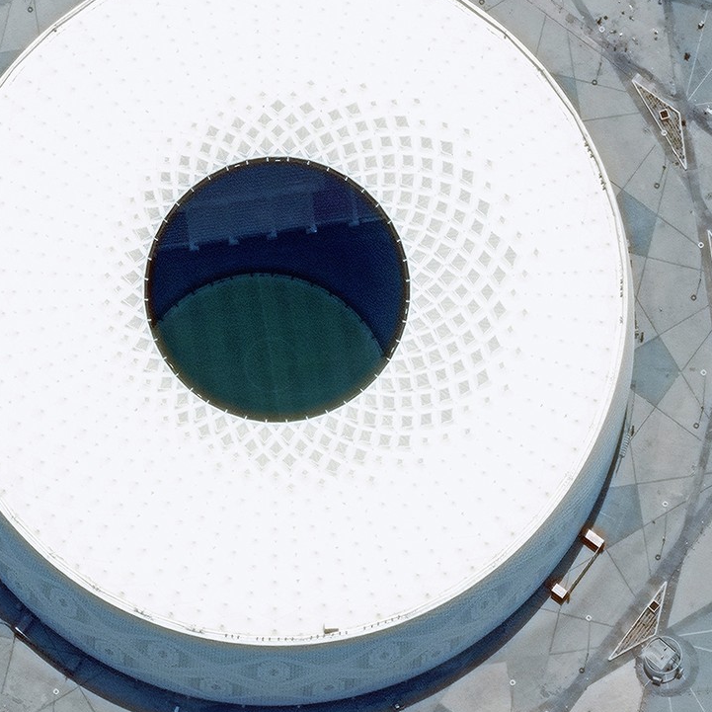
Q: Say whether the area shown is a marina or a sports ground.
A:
sports ground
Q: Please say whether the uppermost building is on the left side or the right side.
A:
right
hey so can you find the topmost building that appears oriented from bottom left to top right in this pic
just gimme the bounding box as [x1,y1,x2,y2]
[552,530,604,605]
